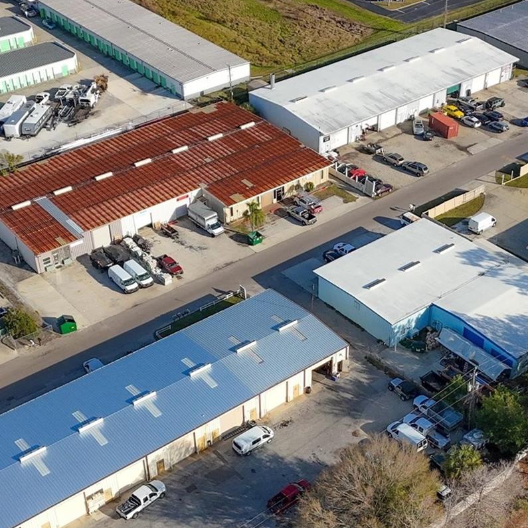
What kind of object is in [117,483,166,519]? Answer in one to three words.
truck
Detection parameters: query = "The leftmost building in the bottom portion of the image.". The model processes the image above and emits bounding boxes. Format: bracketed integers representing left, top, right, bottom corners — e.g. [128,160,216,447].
[0,287,352,528]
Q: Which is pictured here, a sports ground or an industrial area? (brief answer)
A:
industrial area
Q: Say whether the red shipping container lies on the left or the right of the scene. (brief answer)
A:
right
